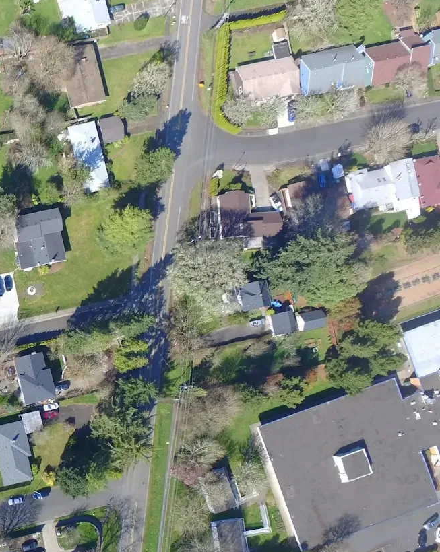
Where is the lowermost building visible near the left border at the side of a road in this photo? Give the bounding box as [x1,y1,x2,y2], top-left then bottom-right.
[0,411,43,485]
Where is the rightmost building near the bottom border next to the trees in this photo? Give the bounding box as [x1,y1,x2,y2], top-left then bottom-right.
[251,379,440,549]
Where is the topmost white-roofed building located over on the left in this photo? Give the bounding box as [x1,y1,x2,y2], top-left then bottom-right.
[57,0,111,30]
